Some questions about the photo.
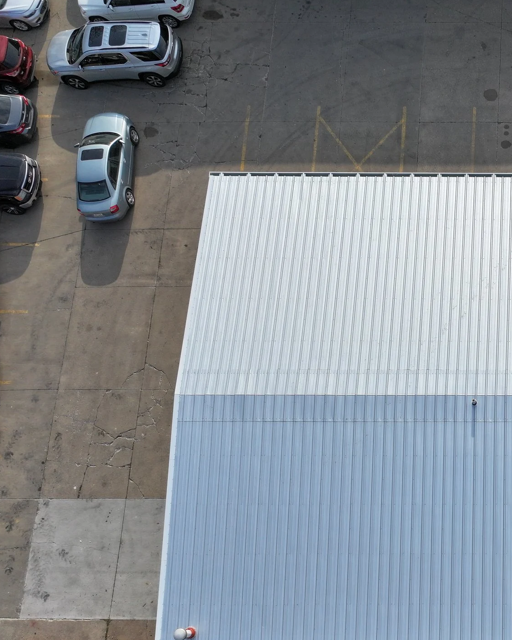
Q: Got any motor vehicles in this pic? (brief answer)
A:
Yes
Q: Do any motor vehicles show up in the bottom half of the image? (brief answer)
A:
No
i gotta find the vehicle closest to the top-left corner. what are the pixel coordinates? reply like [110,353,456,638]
[0,0,50,32]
